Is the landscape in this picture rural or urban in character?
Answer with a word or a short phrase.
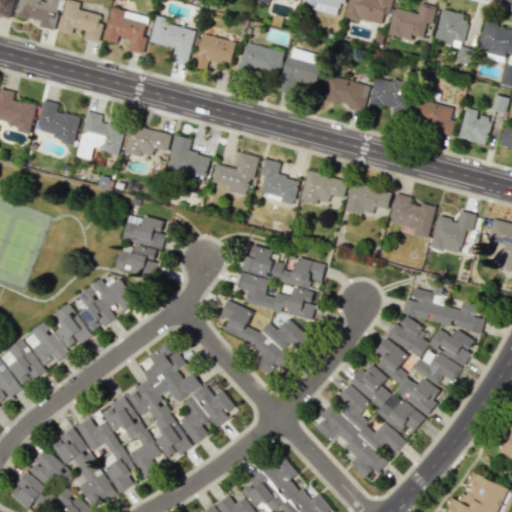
urban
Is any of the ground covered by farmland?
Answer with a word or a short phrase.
No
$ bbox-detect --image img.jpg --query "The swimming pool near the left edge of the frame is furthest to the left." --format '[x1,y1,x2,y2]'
[2,130,28,144]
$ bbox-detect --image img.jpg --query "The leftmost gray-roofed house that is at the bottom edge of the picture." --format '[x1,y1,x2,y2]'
[14,472,46,508]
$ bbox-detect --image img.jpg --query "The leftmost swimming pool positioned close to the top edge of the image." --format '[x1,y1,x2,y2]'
[167,4,192,18]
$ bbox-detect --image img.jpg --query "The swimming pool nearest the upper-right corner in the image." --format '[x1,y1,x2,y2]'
[479,64,502,79]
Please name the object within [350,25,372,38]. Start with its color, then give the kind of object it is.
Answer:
blue swimming pool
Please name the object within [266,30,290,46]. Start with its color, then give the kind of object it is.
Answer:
white swimming pool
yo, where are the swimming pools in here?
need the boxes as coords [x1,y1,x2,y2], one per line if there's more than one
[42,138,66,156]
[266,30,290,46]
[2,130,28,144]
[167,4,192,18]
[271,3,292,17]
[128,161,150,174]
[479,64,502,79]
[350,25,372,38]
